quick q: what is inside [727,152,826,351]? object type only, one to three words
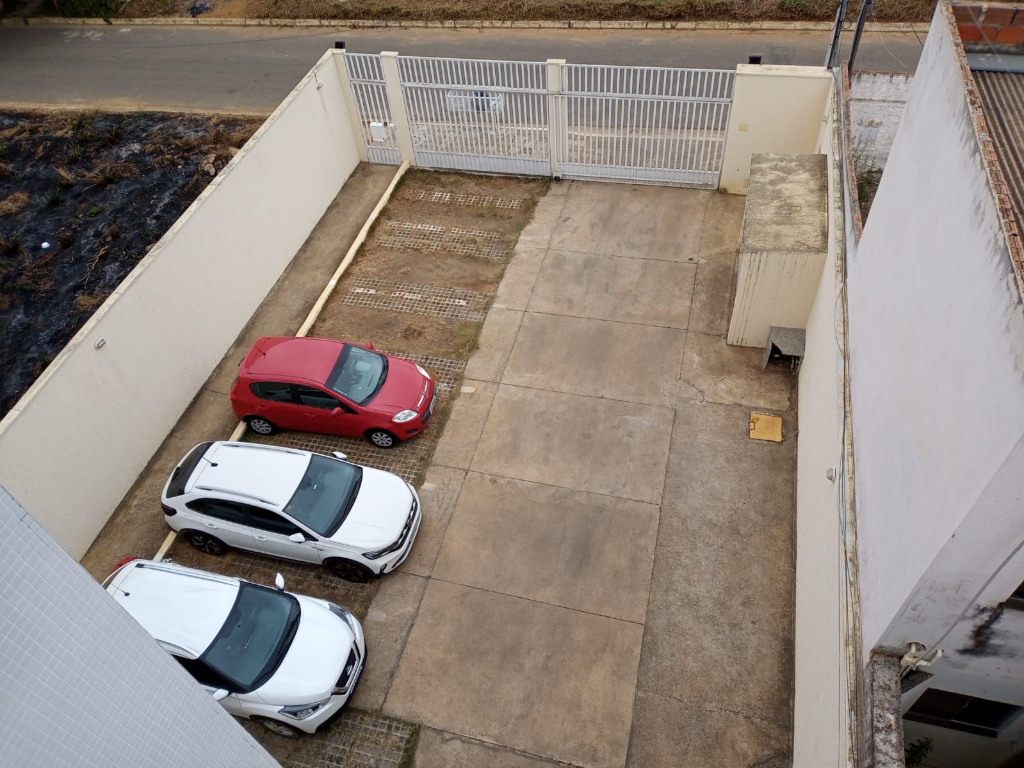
shed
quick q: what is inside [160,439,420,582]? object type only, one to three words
car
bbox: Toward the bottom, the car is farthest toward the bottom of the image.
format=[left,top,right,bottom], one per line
[103,558,369,740]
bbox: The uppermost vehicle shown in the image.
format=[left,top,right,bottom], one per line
[225,333,440,447]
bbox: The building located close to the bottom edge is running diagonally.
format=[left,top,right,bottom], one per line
[0,484,280,768]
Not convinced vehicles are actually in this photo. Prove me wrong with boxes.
[103,558,369,740]
[160,439,420,582]
[225,333,440,447]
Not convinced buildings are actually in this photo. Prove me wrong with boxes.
[846,6,1024,768]
[727,152,826,351]
[0,484,280,768]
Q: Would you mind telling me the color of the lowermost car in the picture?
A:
white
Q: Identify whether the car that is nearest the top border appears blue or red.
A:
red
